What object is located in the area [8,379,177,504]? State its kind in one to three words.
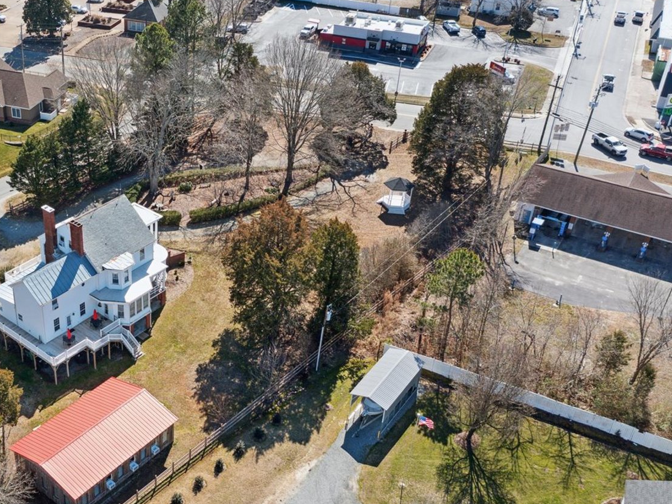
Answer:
house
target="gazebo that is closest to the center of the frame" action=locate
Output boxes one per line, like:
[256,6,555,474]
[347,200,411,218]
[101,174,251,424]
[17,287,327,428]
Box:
[377,172,418,210]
